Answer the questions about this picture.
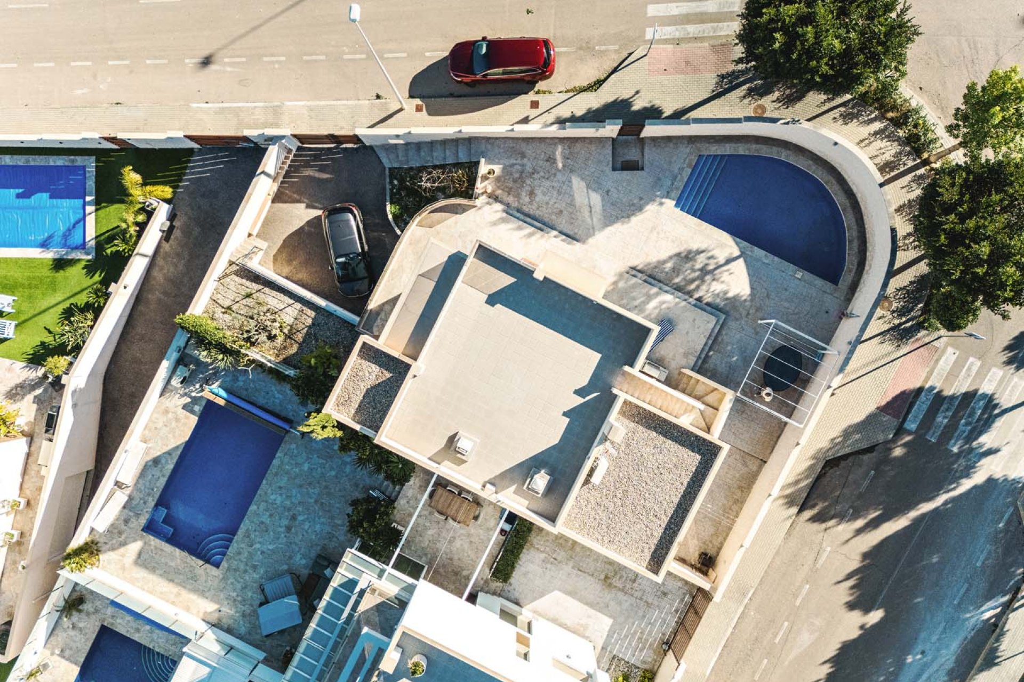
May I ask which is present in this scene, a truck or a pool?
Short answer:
pool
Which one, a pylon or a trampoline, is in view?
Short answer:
trampoline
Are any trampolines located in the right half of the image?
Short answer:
Yes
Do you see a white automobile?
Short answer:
No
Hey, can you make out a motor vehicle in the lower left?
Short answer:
No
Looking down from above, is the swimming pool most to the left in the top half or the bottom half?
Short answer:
top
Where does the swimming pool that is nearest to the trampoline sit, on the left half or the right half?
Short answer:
right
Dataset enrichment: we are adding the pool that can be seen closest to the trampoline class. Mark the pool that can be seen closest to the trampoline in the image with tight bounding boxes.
[675,154,846,285]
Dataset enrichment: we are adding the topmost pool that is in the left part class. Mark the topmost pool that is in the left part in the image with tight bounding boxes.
[0,164,85,249]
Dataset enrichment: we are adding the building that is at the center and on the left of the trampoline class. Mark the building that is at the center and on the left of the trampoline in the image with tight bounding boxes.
[322,238,730,582]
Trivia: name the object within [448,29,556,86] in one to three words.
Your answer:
car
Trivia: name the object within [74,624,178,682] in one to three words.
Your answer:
swimming pool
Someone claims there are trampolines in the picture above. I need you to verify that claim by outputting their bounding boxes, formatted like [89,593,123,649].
[763,345,805,393]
